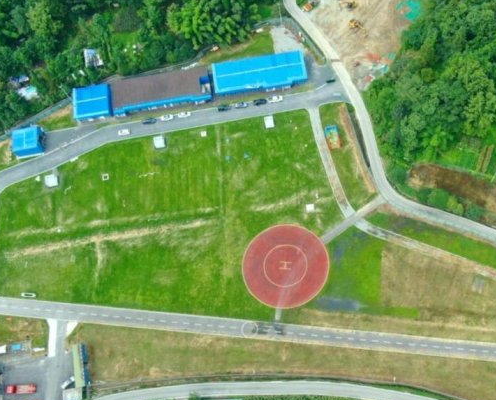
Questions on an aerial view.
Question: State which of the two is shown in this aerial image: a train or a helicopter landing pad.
helicopter landing pad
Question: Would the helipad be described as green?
No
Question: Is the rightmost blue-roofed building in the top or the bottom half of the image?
top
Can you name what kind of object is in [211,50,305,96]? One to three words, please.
building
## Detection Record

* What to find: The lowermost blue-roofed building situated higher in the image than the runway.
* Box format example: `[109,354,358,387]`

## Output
[10,126,48,159]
